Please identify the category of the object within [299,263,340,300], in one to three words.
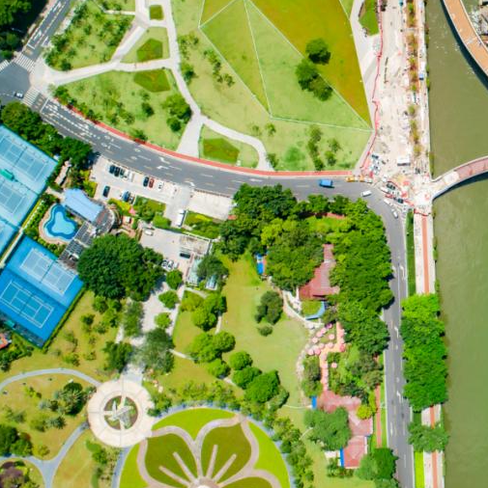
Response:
building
